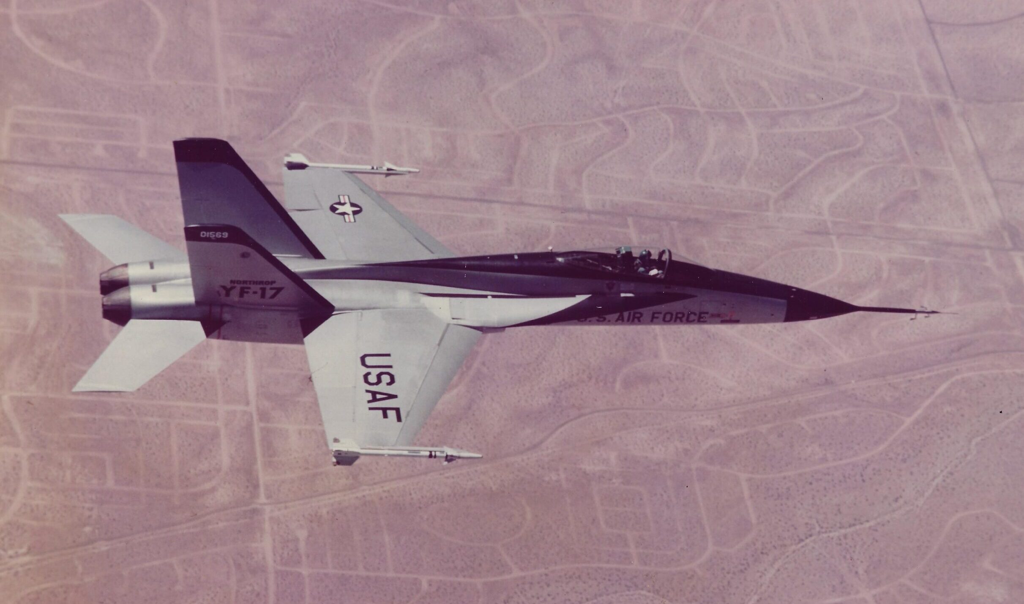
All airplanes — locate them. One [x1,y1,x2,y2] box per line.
[58,140,957,453]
